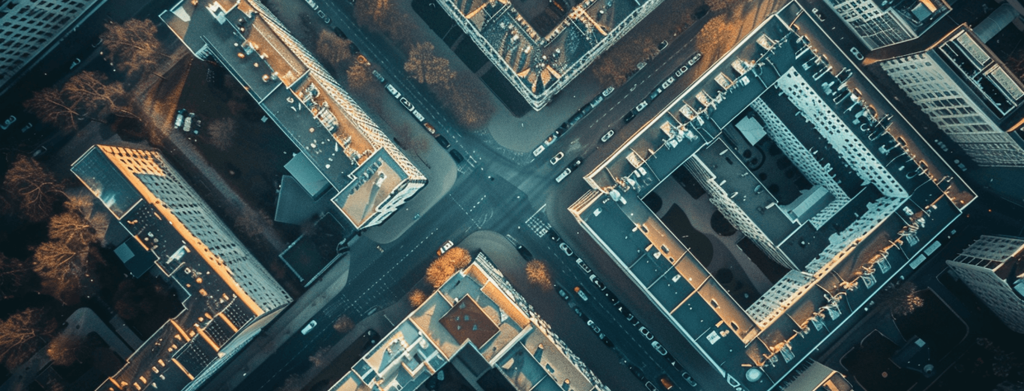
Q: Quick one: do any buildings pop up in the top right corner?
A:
Yes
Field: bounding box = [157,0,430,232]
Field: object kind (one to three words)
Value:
building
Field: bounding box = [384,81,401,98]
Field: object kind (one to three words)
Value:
vehicle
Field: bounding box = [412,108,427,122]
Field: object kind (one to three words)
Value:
car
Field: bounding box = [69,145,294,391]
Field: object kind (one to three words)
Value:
building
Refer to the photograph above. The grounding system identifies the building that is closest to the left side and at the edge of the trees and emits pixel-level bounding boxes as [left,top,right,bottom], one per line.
[0,0,107,93]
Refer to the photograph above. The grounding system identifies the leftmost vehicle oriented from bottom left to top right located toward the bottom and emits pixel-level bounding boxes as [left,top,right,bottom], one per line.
[299,319,316,336]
